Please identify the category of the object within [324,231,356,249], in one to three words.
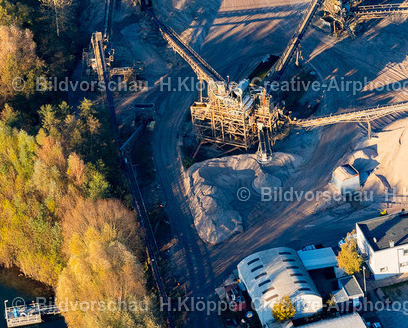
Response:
vehicle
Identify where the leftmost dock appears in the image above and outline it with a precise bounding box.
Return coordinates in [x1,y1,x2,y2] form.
[4,291,42,326]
